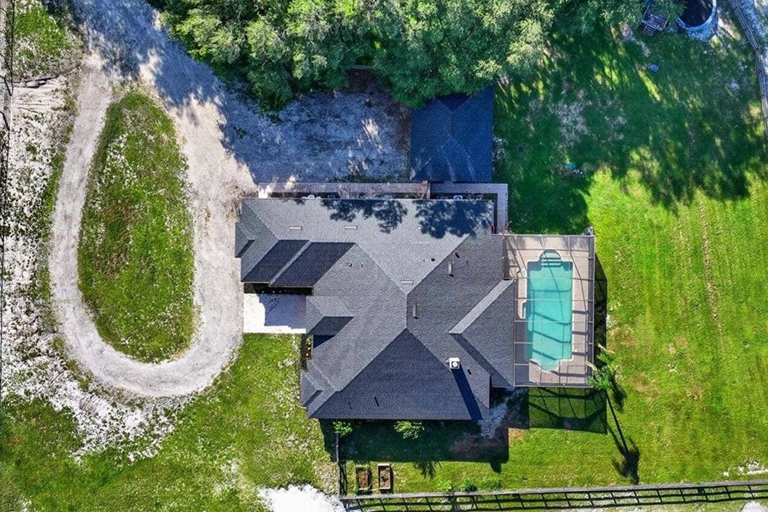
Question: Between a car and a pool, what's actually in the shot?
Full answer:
Of the two, only a pool appears.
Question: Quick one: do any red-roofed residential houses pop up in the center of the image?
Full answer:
No, no red-roofed residential house appears in the center of the image.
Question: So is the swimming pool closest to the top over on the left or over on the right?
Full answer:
The swimming pool closest to the top sits on the right side.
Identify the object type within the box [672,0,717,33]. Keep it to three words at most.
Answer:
swimming pool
